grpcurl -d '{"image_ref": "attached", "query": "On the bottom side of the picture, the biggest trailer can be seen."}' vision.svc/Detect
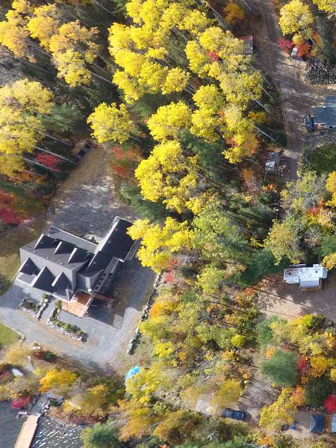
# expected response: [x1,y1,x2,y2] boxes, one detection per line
[278,263,327,295]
